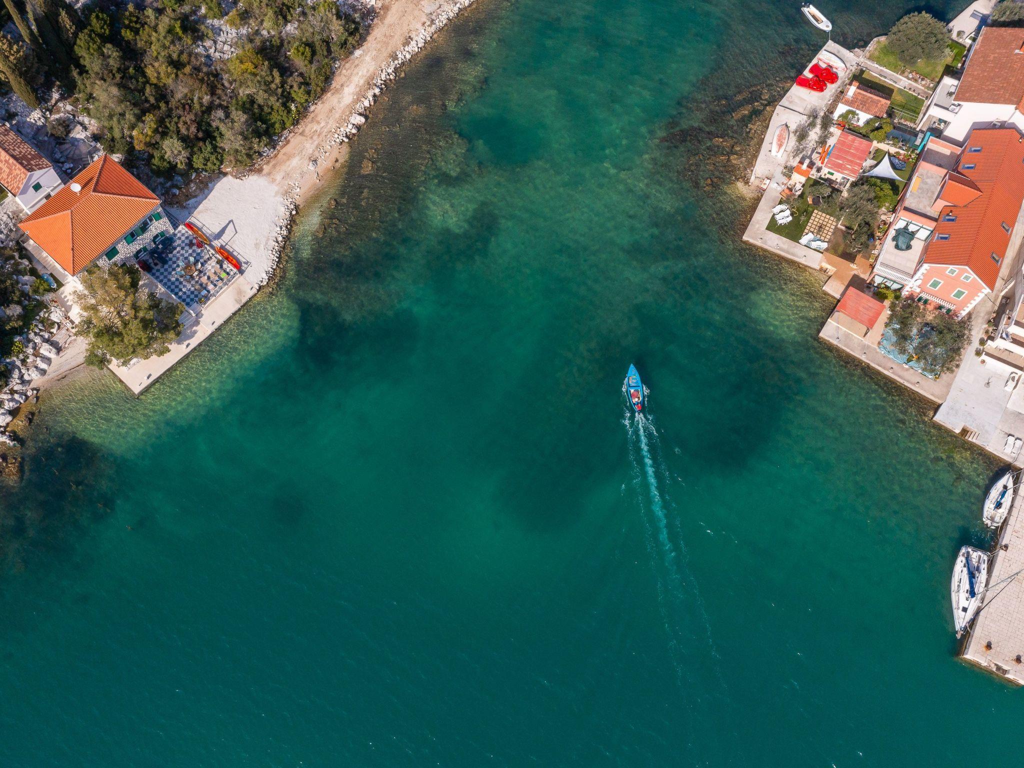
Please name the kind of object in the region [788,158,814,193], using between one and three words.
house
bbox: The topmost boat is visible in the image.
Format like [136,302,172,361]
[799,2,831,34]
